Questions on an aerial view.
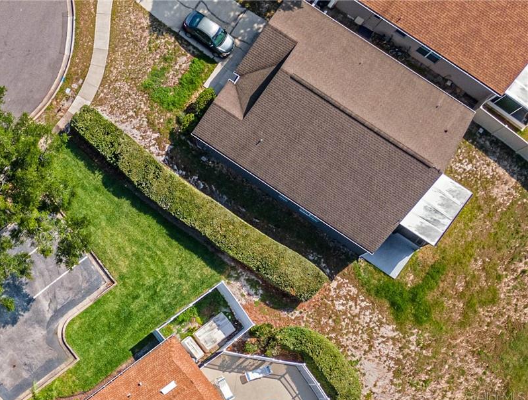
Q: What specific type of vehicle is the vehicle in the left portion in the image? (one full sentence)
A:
It looks like the vehicle in the left portion is an automobile.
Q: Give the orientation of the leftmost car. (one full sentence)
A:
The leftmost car is laid out at an angle.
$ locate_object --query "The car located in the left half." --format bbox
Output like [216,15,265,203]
[181,7,236,61]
